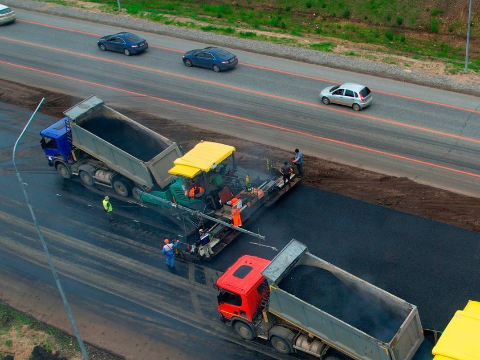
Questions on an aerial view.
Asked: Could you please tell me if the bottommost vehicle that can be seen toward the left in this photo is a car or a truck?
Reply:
truck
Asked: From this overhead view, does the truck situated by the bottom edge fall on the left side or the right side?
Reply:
right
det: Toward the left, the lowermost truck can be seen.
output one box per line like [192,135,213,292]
[34,92,187,201]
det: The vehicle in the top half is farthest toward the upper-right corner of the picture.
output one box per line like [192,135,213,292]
[318,79,375,110]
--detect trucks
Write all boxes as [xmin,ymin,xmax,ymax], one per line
[34,92,187,201]
[211,236,432,360]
